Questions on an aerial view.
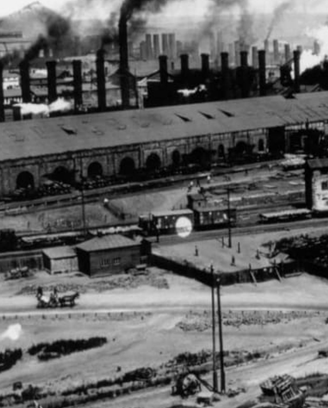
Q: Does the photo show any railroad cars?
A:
Yes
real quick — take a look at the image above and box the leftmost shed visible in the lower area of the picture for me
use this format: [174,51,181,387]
[47,247,79,274]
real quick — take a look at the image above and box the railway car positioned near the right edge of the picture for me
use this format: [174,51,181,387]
[259,206,314,220]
